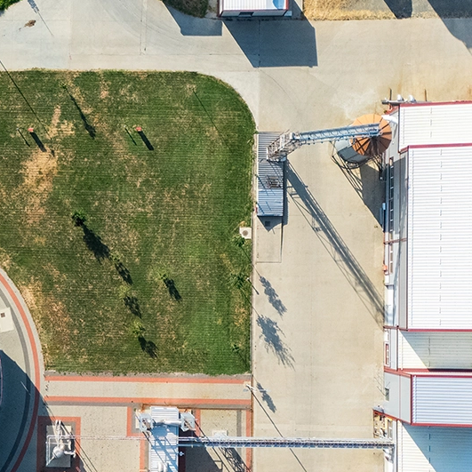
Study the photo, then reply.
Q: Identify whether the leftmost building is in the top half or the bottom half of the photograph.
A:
bottom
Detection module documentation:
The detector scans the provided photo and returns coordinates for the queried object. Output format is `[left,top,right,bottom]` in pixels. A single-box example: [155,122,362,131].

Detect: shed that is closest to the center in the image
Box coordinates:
[256,132,283,216]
